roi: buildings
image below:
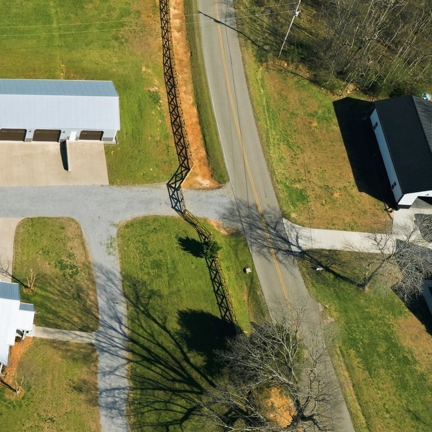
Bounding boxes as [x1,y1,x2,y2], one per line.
[416,260,432,307]
[0,78,121,144]
[350,87,432,206]
[0,280,34,381]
